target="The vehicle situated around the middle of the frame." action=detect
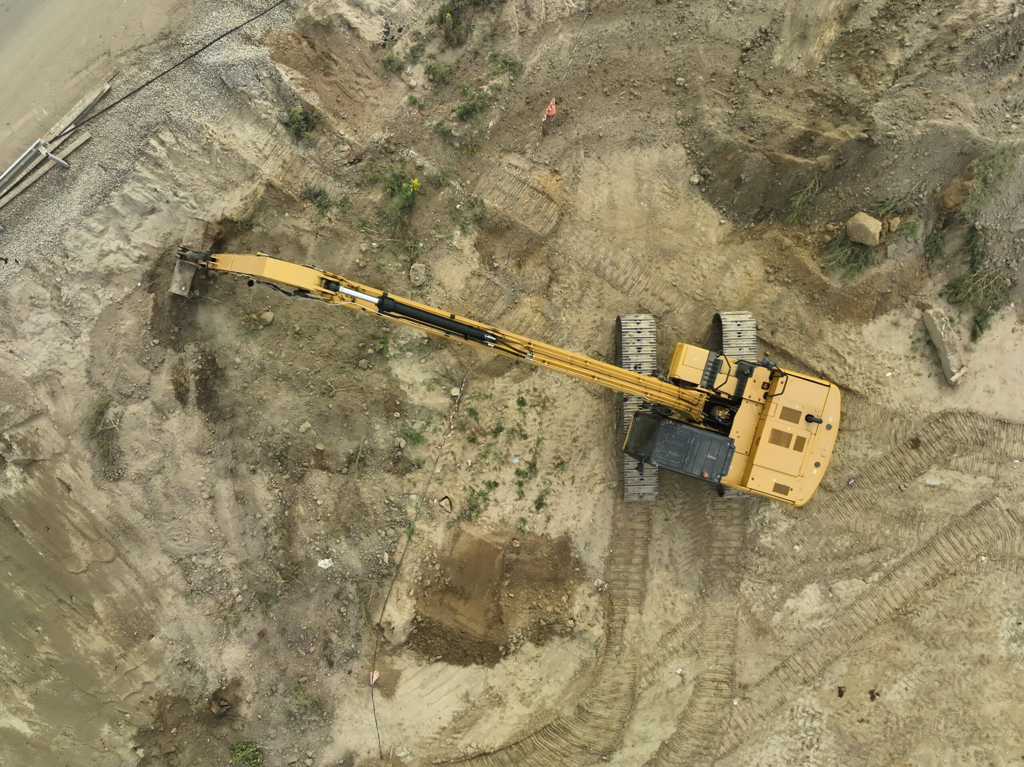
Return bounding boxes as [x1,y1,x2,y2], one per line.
[166,214,839,506]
